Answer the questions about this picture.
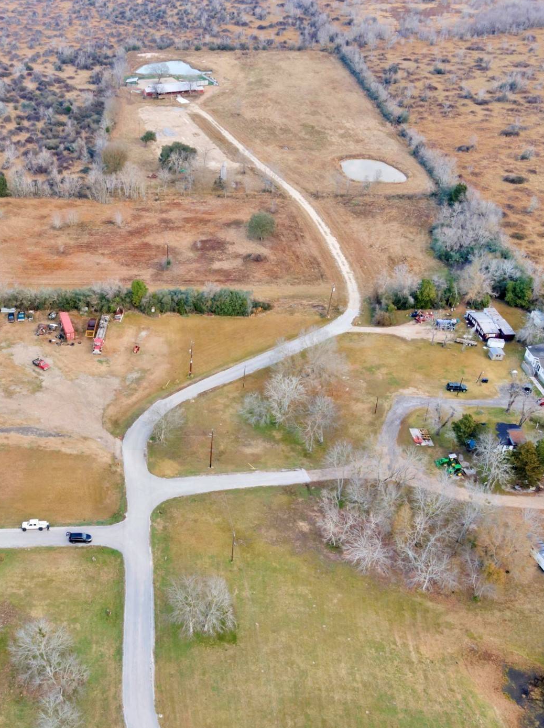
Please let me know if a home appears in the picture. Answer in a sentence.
Yes, a home appears in the view.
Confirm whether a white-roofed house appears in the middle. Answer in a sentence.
No, I see no white-roofed house in the middle.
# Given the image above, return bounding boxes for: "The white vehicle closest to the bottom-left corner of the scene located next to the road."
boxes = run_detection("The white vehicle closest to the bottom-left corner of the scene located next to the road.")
[21,520,49,532]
